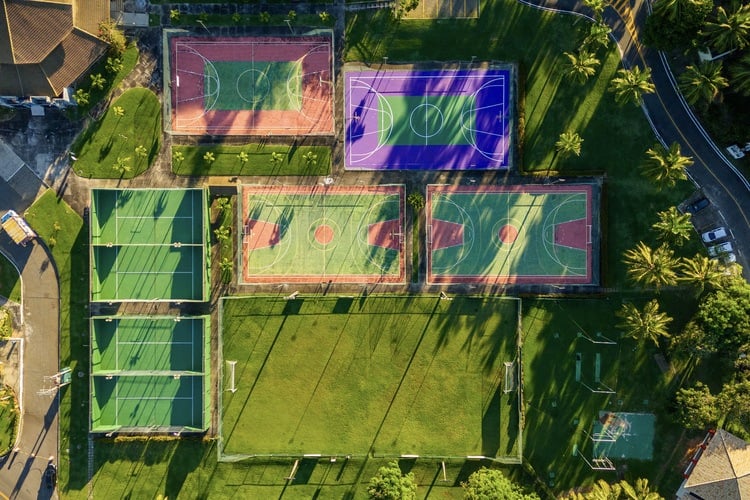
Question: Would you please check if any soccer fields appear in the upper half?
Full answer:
No, no soccer field can be made out in the upper half.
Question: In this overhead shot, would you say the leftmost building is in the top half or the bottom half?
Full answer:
The leftmost building is in the top half of the image.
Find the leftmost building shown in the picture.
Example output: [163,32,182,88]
[0,0,111,97]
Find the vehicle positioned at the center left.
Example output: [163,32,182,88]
[0,211,32,245]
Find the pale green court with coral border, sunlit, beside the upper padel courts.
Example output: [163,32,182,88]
[242,184,406,284]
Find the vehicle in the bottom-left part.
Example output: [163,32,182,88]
[42,463,56,488]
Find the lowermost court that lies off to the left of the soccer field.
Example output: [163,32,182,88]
[90,372,209,433]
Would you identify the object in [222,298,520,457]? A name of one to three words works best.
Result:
soccer field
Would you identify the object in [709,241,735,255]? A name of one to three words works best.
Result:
car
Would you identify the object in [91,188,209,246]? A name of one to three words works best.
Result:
sports court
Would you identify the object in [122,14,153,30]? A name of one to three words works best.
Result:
shed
